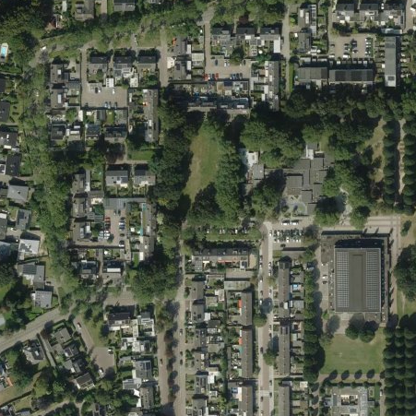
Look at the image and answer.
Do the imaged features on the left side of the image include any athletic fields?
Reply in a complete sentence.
No, on the left side of the image there is no athletic field.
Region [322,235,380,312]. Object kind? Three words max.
building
